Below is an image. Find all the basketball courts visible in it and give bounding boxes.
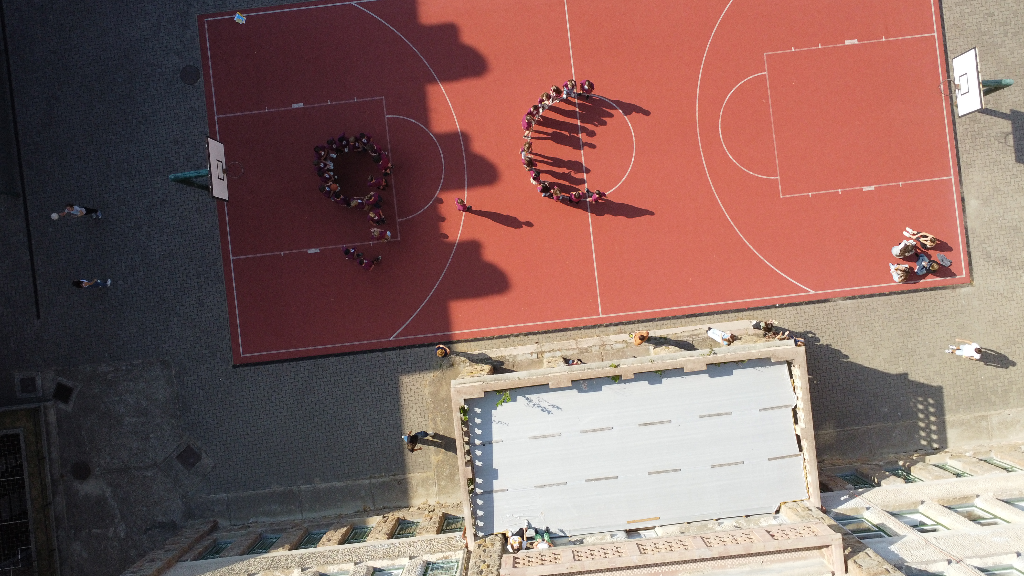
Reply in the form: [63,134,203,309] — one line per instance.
[197,0,970,364]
